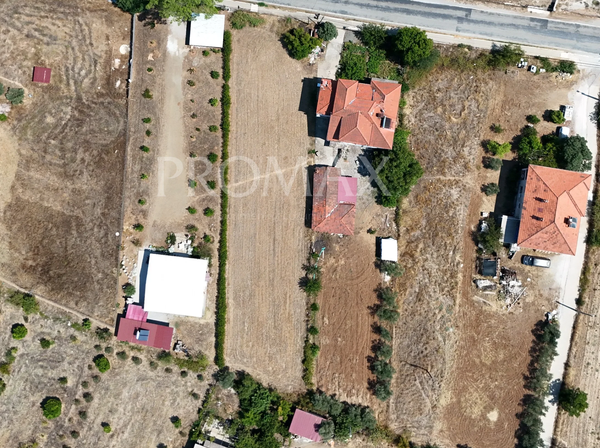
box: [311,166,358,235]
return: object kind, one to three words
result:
house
